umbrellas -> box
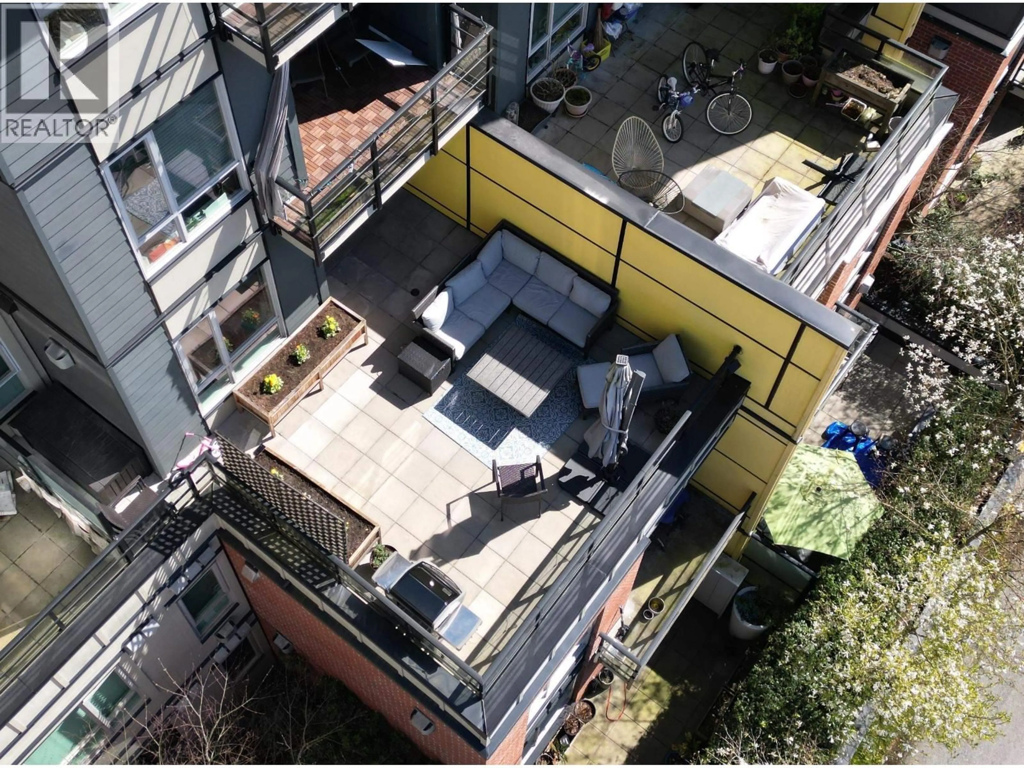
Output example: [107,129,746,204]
[555,351,661,522]
[764,447,886,564]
